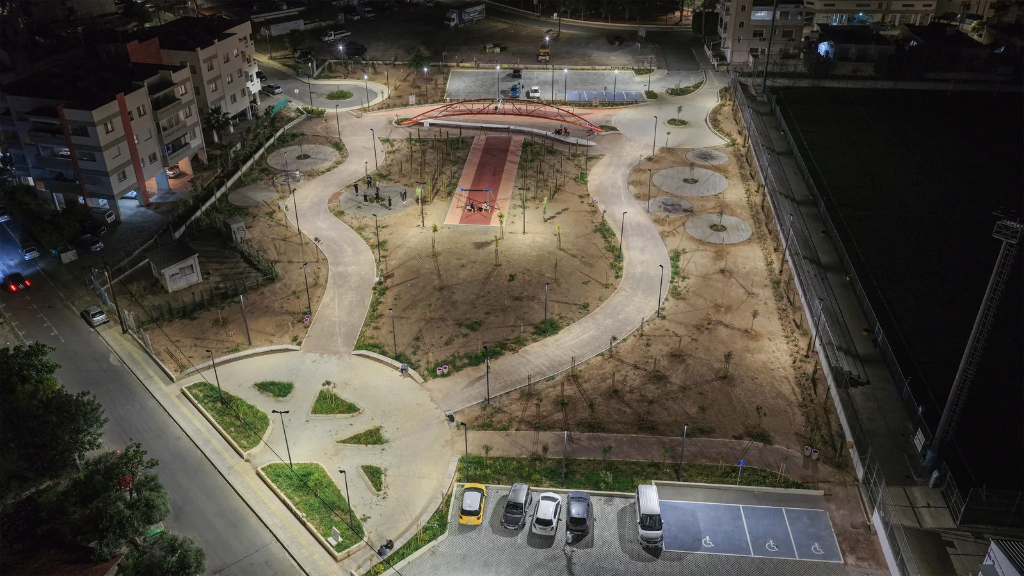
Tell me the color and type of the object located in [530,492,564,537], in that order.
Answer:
white car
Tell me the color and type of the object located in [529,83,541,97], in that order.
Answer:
white vehicle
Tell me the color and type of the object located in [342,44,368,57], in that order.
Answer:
black vehicle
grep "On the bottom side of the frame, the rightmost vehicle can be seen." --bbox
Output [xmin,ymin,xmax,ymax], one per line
[632,482,675,550]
